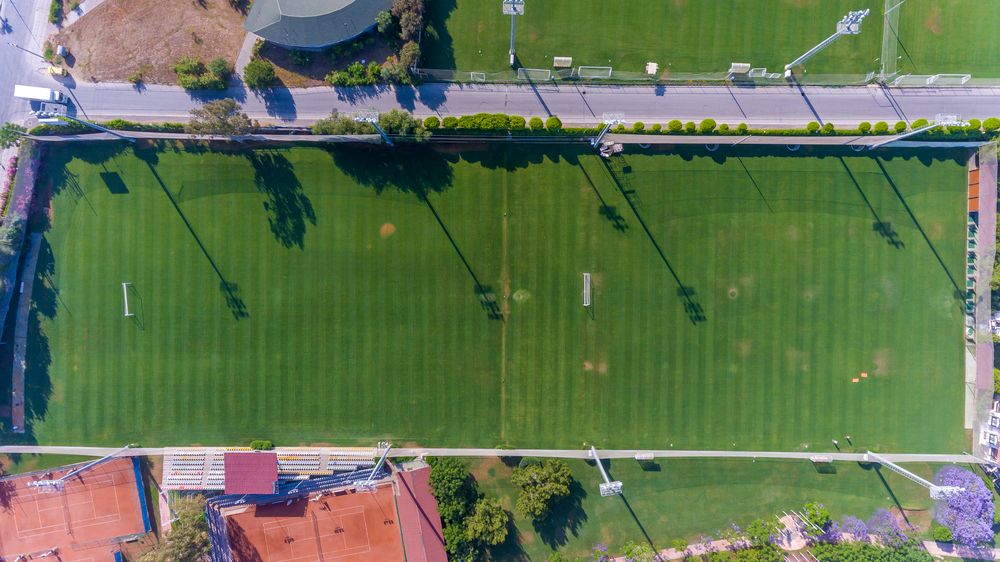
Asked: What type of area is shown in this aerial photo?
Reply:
sports ground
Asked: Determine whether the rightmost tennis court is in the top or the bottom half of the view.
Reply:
bottom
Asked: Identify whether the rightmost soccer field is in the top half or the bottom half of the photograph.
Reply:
top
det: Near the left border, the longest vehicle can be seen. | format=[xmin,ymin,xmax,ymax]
[13,87,71,106]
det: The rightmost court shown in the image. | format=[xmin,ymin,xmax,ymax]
[224,481,407,562]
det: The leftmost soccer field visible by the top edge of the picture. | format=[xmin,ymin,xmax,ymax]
[421,0,880,82]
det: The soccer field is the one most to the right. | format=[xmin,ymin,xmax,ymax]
[880,0,1000,82]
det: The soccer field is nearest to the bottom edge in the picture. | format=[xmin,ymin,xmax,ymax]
[0,147,971,458]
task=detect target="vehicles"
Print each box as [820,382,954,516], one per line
[48,65,73,78]
[13,87,71,106]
